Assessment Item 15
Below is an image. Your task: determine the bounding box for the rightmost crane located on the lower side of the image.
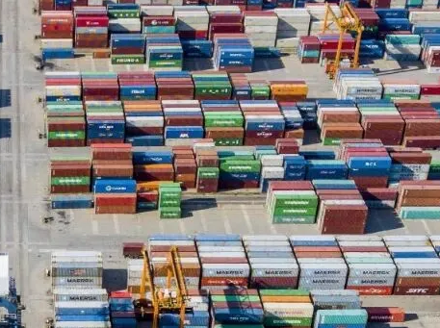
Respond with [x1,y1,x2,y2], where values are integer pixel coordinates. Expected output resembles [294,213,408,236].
[137,243,196,328]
